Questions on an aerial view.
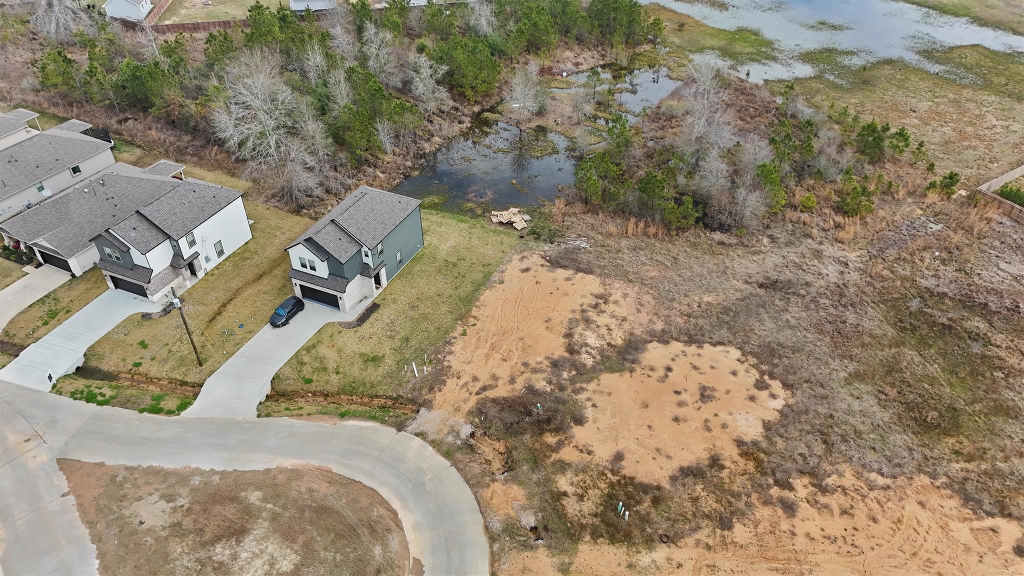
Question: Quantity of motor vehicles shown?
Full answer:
The photo contains exactly 1 motor vehicle.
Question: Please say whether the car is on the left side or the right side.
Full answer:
The car is on the left side of the image.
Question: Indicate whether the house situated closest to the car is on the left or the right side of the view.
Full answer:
The house situated closest to the car appears in the left half of the scene.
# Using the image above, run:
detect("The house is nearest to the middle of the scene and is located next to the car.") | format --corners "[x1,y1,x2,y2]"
[284,189,425,311]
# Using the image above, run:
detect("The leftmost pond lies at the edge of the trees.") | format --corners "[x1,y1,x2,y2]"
[386,66,686,214]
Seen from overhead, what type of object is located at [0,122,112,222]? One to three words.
house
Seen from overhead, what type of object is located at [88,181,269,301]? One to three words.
house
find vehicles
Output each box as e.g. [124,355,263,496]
[266,294,306,326]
